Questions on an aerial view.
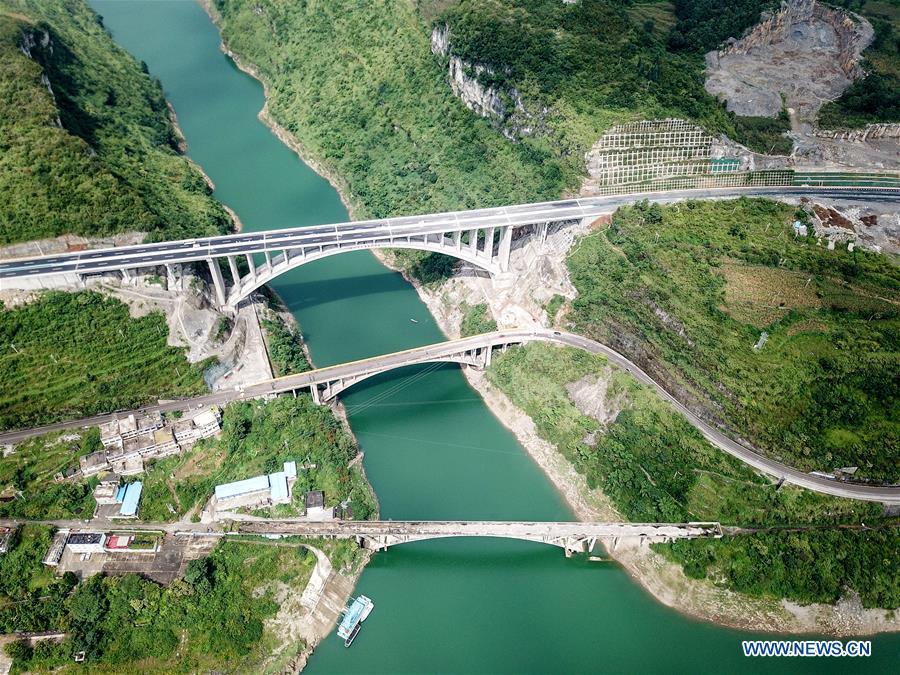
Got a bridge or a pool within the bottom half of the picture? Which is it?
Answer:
bridge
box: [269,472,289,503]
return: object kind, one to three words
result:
shed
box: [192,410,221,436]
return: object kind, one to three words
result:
house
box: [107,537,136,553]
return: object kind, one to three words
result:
shed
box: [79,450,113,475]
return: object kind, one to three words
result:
house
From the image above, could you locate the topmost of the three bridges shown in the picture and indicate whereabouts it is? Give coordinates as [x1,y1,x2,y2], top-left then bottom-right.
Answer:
[87,198,590,310]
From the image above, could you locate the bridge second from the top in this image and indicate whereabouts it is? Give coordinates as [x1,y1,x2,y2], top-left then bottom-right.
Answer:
[242,327,550,403]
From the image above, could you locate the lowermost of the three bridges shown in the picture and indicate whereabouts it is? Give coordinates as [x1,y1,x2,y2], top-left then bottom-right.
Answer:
[238,521,722,556]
